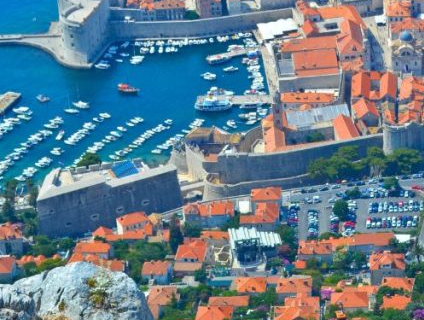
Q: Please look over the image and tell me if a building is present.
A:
Yes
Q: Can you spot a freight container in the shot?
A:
No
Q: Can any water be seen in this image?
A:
Yes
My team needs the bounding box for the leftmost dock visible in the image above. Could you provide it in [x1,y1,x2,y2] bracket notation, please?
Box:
[0,92,22,114]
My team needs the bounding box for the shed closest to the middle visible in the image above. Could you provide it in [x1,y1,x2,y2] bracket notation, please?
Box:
[192,120,245,151]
